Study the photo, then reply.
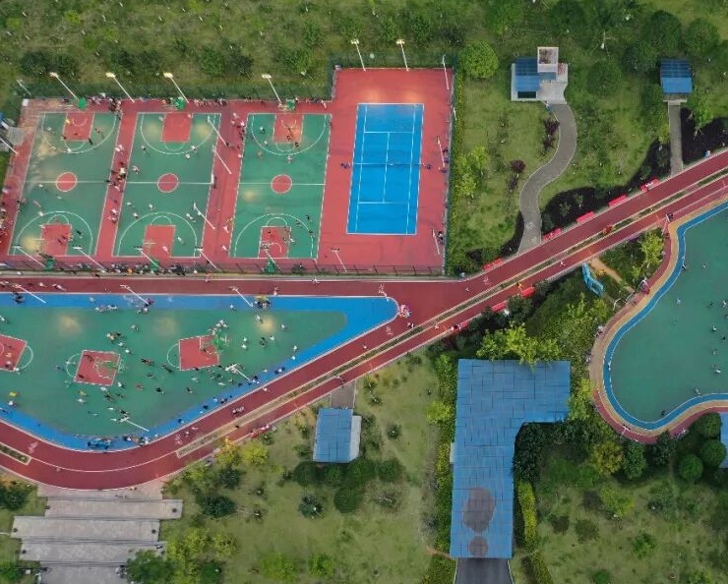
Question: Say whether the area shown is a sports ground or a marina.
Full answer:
This looks like a sports ground.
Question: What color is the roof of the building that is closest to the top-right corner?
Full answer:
The color of the roof on the building that is closest to the top-right corner is blue.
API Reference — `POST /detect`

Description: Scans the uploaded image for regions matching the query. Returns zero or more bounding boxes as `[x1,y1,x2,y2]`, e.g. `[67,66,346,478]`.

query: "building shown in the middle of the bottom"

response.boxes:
[314,409,365,464]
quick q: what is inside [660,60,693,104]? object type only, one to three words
building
